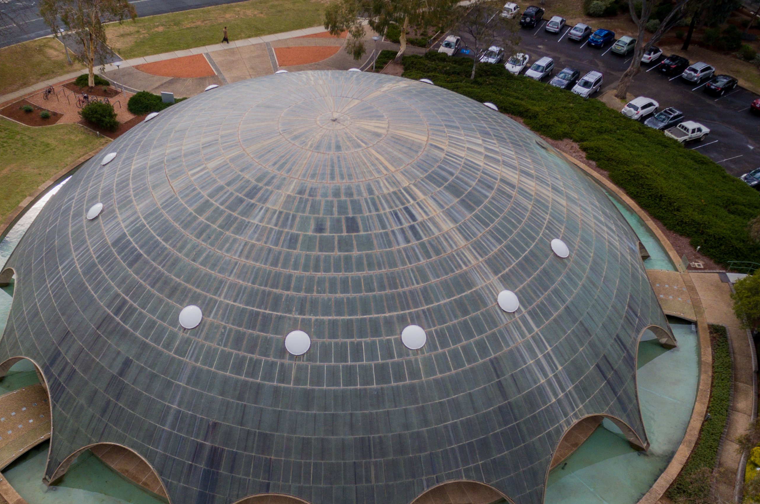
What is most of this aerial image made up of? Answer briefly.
buildings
